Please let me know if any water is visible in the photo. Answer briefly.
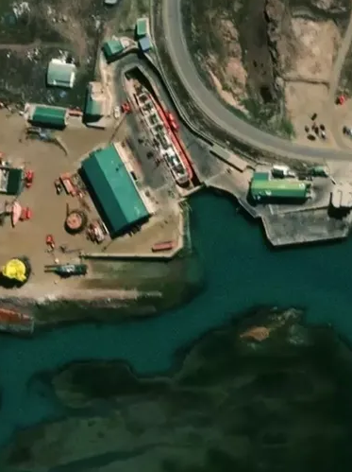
Yes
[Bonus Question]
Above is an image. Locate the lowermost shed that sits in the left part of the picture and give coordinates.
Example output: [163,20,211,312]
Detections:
[83,142,155,232]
